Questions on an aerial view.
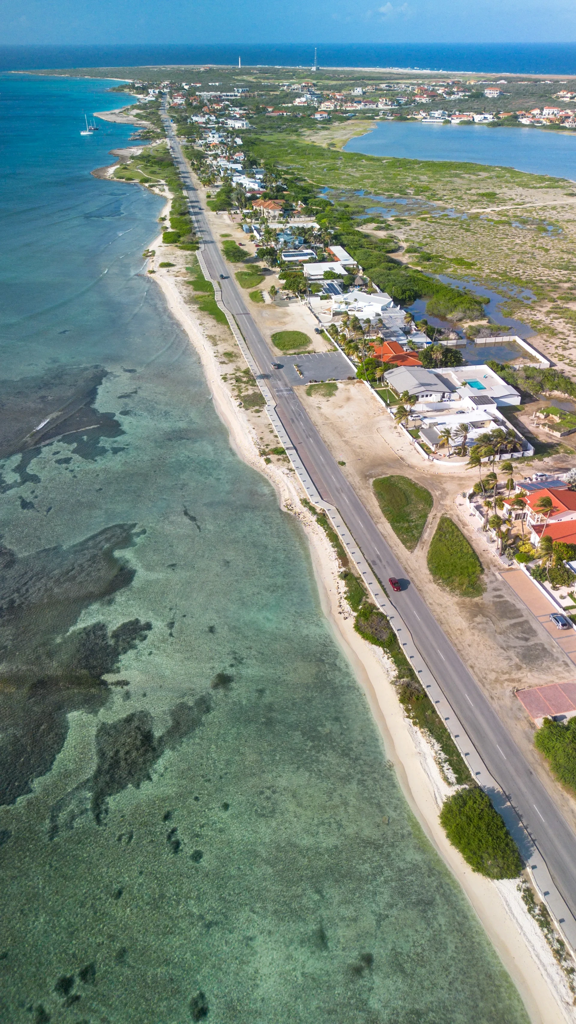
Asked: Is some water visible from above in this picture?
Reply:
Yes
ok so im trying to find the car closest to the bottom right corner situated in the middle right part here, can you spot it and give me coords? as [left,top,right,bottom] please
[547,611,571,629]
